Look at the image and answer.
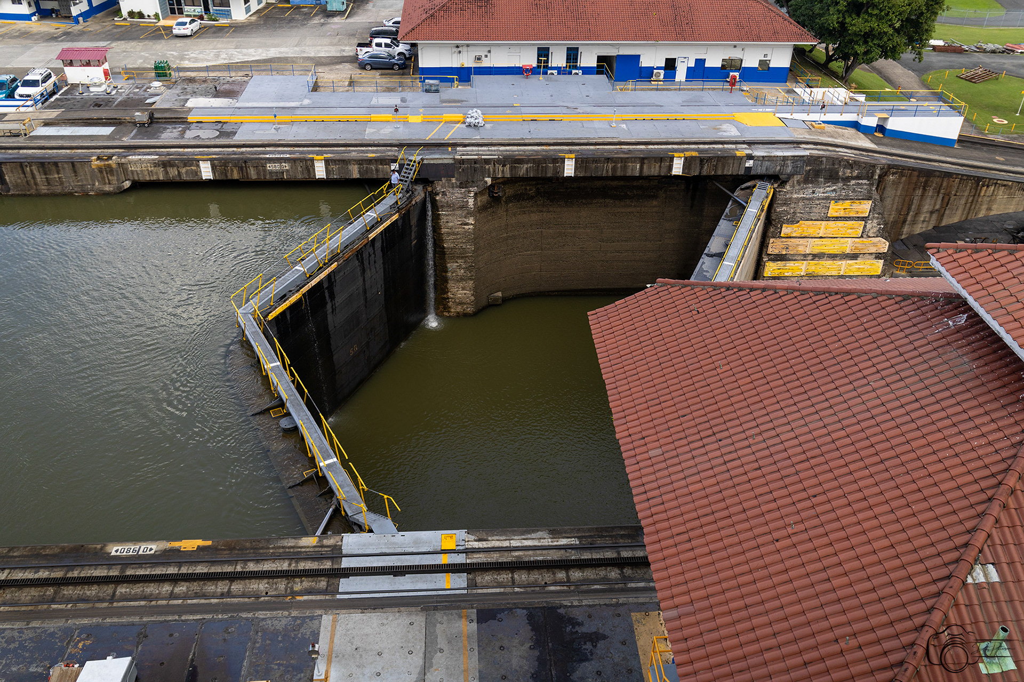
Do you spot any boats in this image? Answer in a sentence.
No, there isn't any boat down there.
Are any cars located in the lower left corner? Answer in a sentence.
No, I see no car in the lower left corner.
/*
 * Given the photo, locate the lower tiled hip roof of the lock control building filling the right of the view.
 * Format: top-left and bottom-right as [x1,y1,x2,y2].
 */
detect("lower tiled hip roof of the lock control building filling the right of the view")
[586,274,1024,682]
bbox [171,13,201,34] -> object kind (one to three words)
car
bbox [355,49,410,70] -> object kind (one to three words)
car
